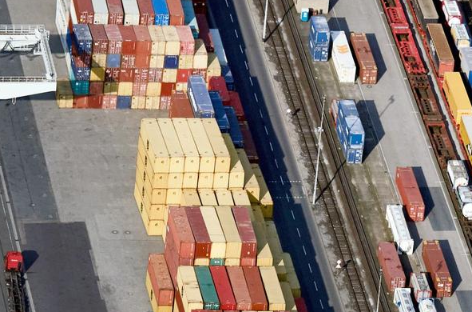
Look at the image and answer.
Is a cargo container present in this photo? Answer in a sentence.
Yes, a cargo container appears in the view.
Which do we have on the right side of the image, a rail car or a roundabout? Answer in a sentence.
Visible on the right side of the image is a rail car.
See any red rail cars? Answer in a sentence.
Yes, the image includes a red rail car.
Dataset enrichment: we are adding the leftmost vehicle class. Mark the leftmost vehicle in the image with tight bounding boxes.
[2,249,33,312]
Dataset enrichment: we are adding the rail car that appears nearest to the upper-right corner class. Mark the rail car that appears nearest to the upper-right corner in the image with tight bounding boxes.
[433,0,451,36]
